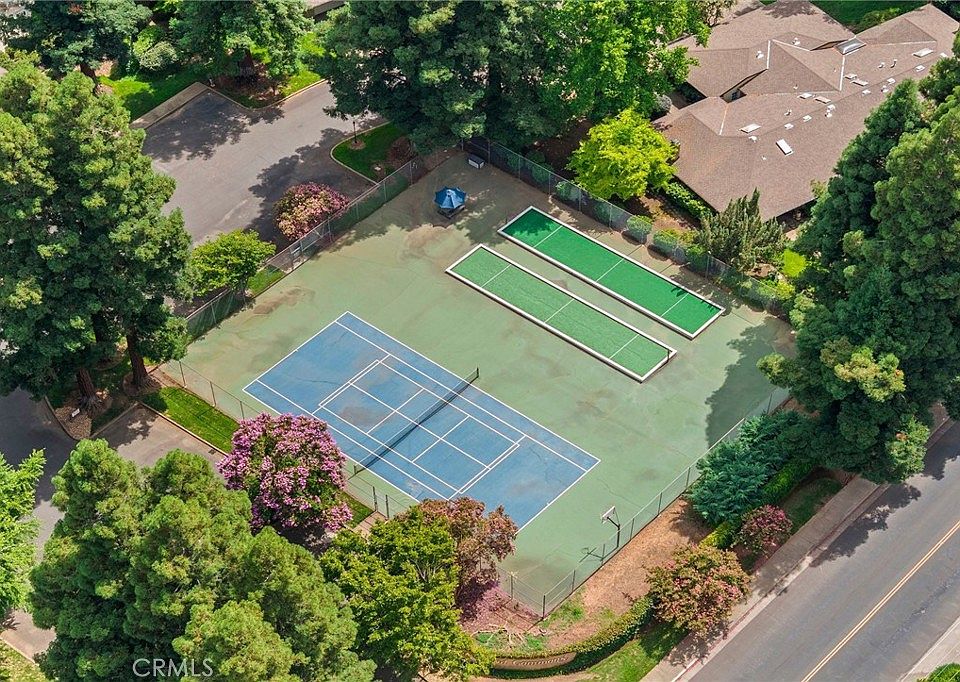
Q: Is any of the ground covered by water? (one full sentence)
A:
No, no water is visible.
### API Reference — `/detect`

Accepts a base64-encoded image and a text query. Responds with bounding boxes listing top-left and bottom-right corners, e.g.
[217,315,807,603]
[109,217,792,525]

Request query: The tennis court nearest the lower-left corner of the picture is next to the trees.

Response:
[243,311,600,553]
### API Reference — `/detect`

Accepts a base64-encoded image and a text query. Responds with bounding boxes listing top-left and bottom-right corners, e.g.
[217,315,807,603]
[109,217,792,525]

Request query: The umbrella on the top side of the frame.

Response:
[433,187,466,207]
